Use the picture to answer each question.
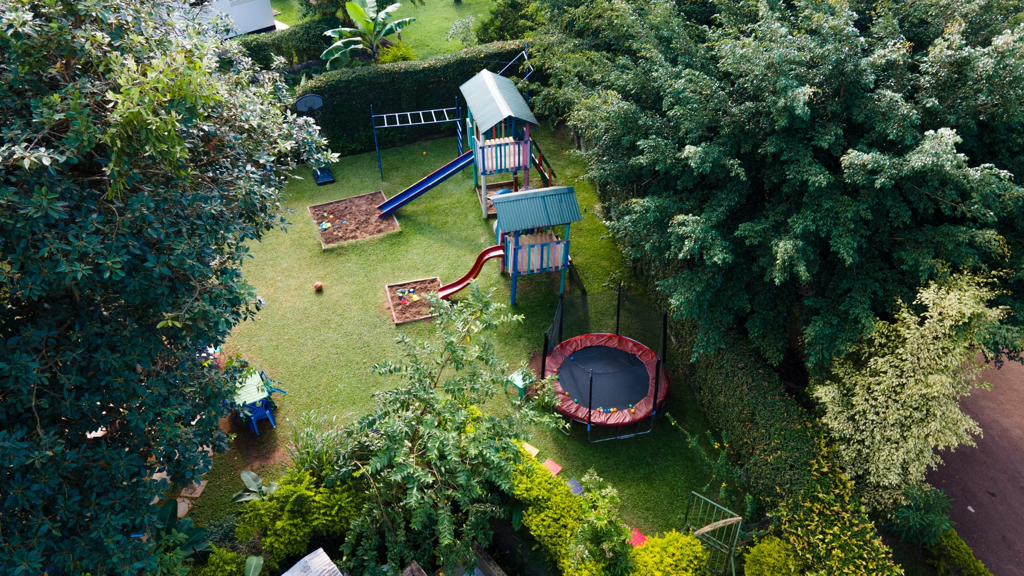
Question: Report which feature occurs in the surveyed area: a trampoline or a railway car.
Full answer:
Of the two, only a trampoline appears.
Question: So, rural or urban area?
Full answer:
The land in this view is best described as rural.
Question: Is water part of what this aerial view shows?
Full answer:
No, water can't be seen anywhere here.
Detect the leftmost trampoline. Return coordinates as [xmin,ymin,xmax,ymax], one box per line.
[541,281,677,445]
